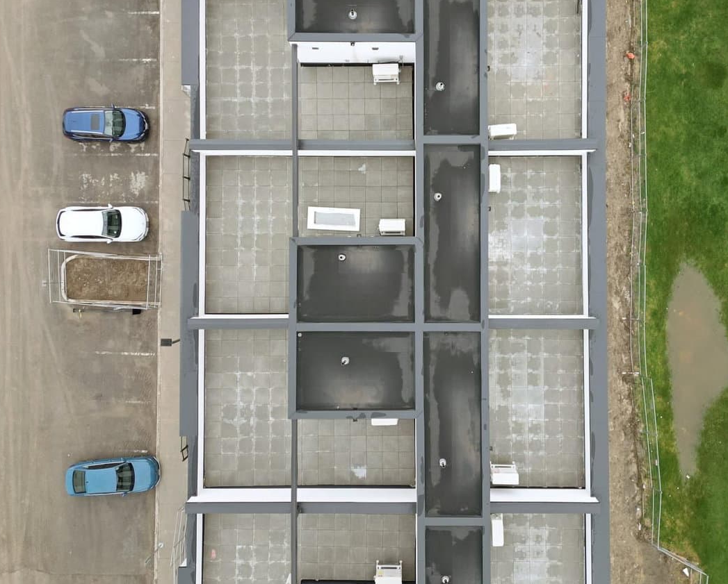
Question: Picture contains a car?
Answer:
Yes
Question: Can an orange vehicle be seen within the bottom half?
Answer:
No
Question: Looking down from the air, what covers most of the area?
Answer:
buildings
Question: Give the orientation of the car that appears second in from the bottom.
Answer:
from side to side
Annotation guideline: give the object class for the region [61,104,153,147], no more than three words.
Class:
car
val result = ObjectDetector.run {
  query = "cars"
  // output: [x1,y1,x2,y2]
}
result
[66,453,165,498]
[61,104,153,147]
[53,203,152,247]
